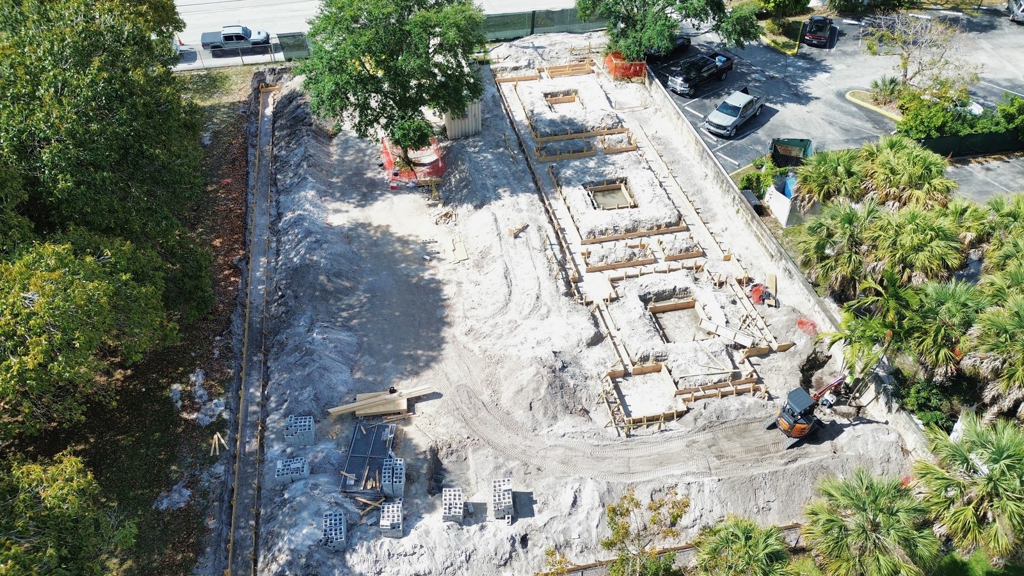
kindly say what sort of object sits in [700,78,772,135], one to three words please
truck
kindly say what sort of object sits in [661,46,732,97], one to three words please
truck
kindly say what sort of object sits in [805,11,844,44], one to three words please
car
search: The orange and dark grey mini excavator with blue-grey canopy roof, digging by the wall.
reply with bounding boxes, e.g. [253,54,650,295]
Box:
[766,368,853,456]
